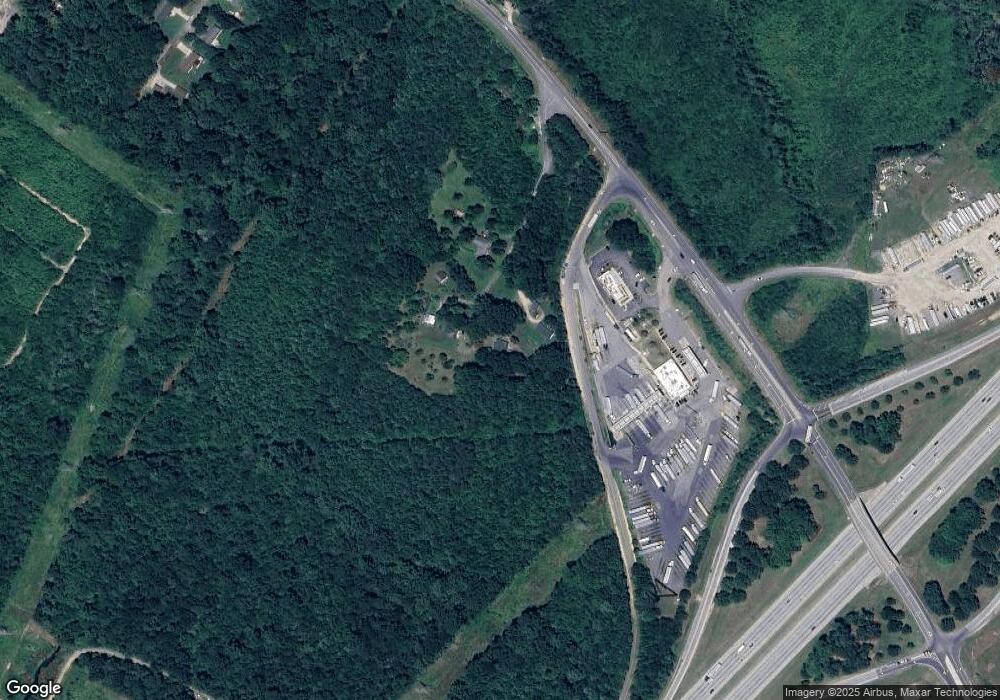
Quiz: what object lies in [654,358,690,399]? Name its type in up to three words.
building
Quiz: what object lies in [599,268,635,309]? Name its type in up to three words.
building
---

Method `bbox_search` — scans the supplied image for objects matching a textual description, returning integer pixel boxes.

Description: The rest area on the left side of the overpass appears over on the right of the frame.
[562,245,742,595]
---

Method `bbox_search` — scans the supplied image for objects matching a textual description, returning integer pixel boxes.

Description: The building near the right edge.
[944,265,969,291]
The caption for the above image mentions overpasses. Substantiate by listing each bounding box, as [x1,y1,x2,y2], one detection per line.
[849,499,901,571]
